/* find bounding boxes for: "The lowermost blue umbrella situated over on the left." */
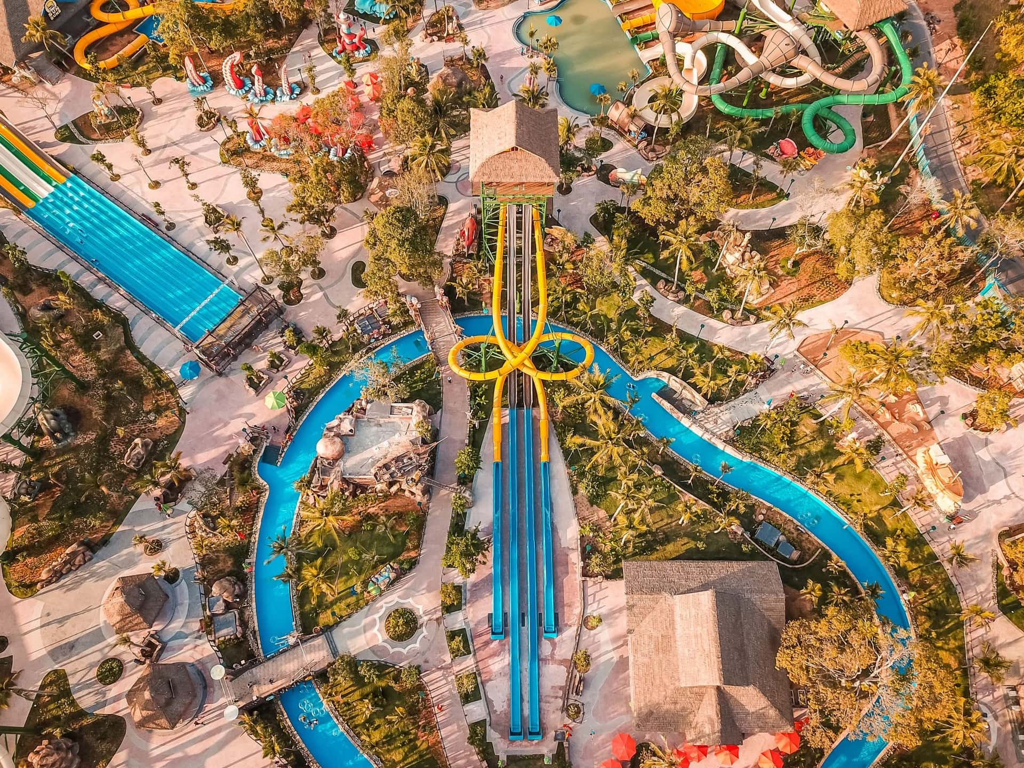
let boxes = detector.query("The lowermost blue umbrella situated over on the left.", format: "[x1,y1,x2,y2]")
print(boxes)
[176,357,203,380]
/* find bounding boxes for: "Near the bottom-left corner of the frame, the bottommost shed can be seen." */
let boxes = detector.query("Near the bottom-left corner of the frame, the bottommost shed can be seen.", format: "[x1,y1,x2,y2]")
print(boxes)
[124,657,208,735]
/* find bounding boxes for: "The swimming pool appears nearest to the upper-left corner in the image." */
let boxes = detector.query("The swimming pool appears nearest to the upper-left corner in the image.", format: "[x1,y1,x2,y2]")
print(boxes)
[133,15,170,41]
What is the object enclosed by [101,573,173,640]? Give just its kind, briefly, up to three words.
shed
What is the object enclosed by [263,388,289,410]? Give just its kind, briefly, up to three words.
umbrella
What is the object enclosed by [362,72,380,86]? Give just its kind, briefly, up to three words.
umbrella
